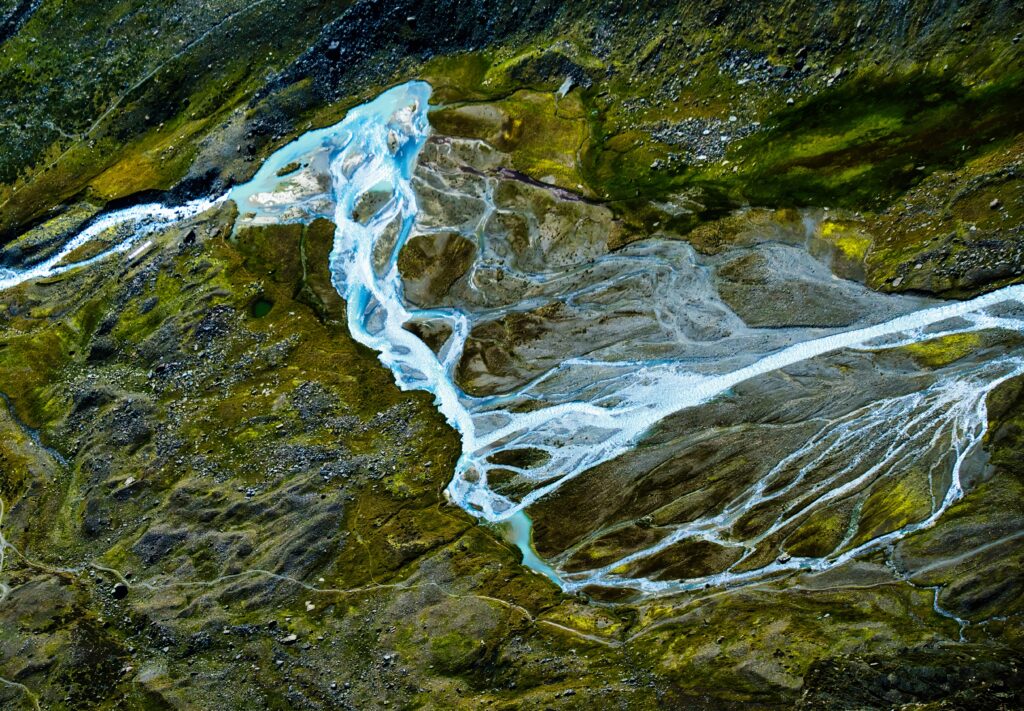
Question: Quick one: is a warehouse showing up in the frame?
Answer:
No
